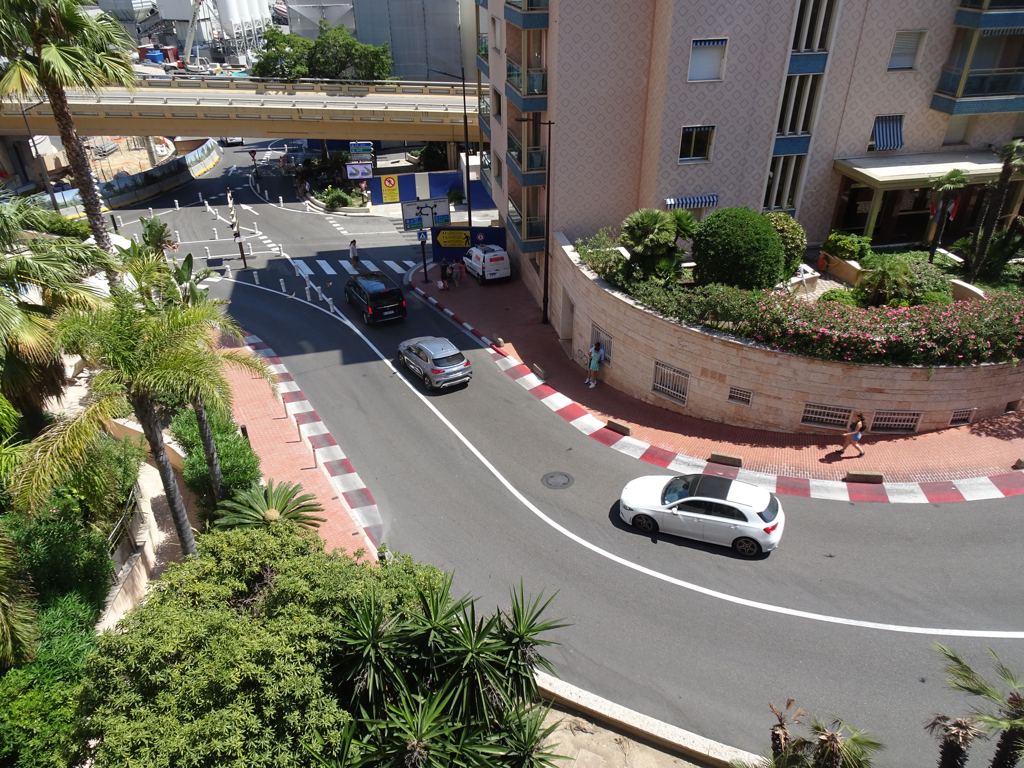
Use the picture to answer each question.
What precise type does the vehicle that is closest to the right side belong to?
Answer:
car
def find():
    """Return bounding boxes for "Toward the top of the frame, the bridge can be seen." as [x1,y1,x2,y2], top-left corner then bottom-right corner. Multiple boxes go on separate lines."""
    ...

[0,68,488,178]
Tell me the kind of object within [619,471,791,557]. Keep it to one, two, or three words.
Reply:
car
